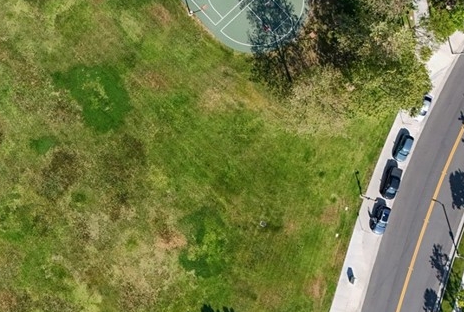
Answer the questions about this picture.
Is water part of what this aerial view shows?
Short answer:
No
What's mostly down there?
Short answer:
grass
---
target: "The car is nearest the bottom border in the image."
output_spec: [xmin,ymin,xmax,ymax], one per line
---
[373,205,392,234]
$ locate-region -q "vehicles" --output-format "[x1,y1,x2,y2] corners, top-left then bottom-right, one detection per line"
[393,133,414,162]
[373,205,392,234]
[381,165,404,200]
[411,92,434,122]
